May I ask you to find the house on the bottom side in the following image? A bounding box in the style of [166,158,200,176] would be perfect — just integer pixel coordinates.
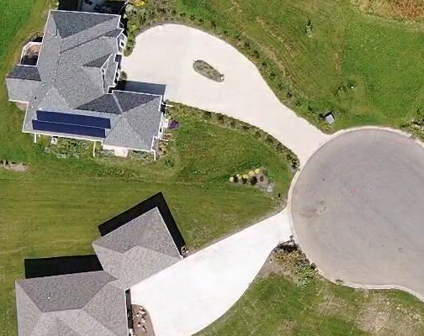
[15,207,187,336]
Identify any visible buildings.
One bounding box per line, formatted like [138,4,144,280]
[15,207,187,336]
[7,9,170,161]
